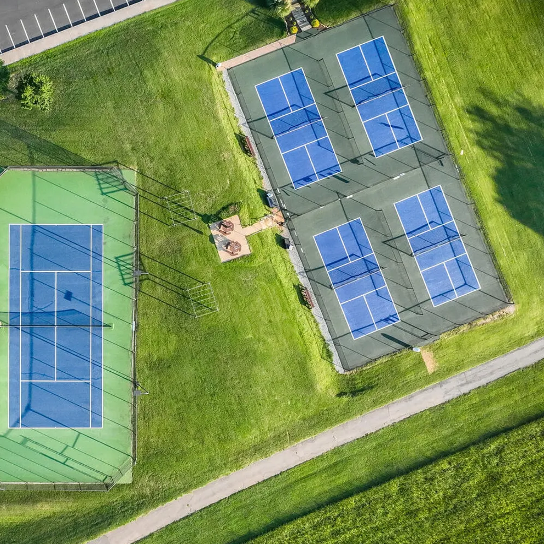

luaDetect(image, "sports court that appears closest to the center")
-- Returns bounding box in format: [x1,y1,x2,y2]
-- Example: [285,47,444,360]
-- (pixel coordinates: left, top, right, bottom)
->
[313,217,402,340]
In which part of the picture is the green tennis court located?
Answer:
left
